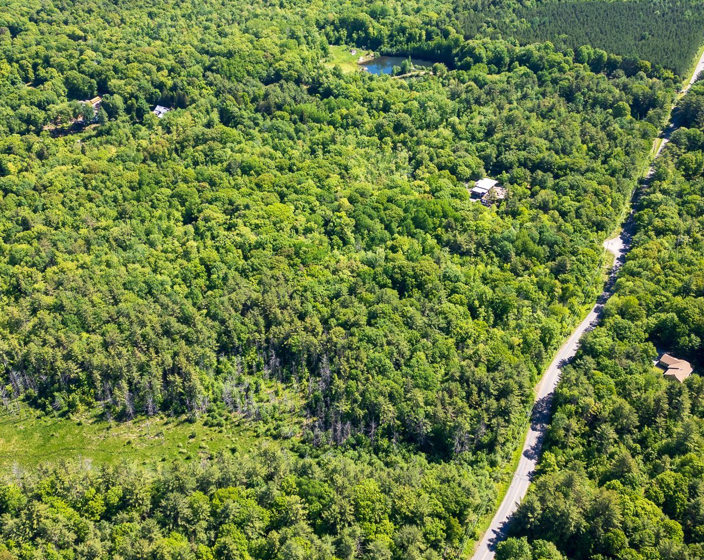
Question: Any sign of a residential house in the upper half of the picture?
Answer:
Yes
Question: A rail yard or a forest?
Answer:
forest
